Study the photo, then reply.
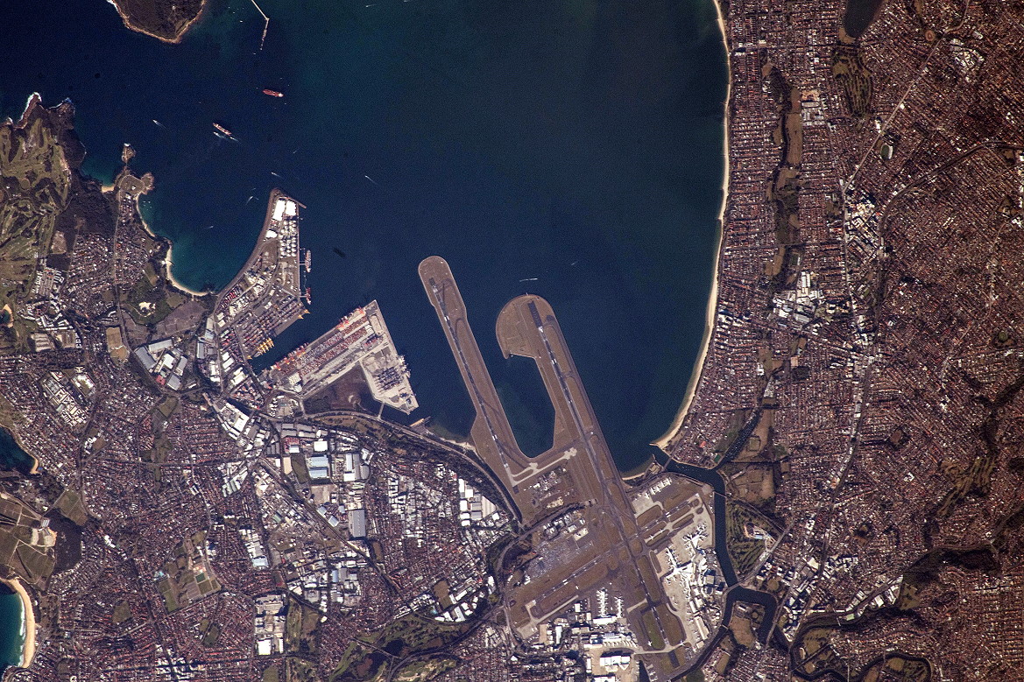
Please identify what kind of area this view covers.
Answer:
port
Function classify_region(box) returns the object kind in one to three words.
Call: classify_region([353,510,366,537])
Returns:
building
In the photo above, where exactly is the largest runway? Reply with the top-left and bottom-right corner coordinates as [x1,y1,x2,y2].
[528,301,681,669]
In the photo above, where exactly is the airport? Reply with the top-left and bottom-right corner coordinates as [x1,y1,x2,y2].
[418,256,726,682]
